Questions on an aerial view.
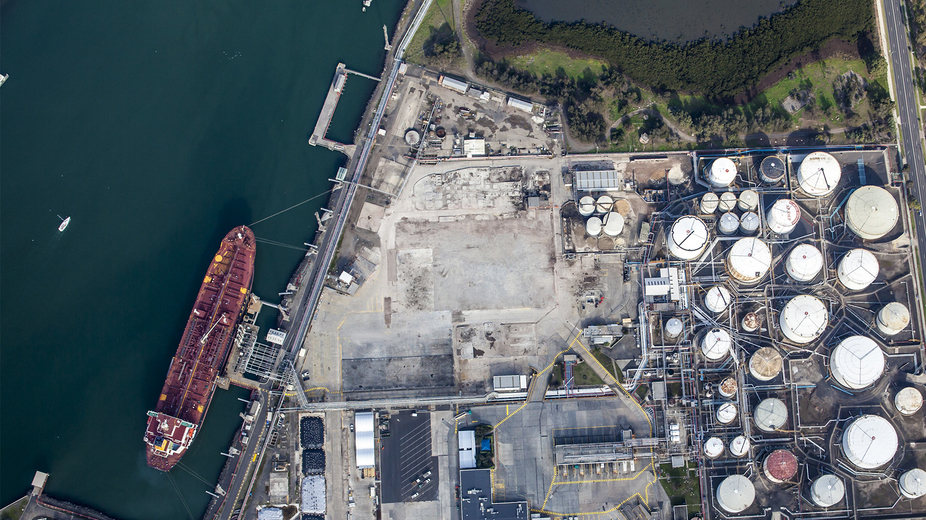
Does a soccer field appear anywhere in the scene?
No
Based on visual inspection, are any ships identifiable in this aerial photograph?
Yes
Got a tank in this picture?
Yes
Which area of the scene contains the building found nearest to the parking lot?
bottom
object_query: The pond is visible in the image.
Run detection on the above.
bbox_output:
[515,0,799,42]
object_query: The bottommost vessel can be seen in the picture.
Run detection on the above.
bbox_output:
[146,225,255,471]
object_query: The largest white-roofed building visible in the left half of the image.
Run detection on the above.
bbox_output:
[355,412,375,468]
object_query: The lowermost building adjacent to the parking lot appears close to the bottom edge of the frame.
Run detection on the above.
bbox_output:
[460,469,528,520]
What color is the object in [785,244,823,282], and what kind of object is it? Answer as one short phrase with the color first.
white storage tank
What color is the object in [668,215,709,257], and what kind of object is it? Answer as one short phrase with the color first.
white storage tank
